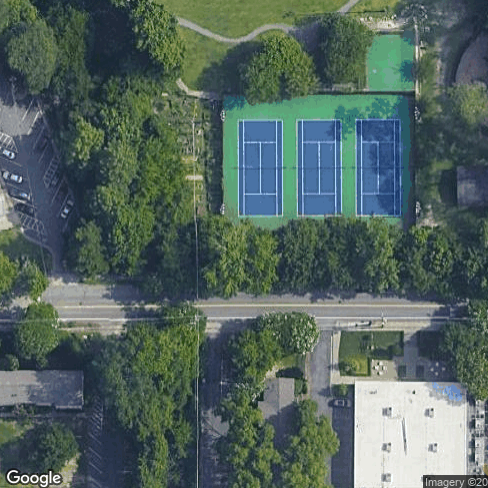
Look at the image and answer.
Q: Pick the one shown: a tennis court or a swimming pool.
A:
tennis court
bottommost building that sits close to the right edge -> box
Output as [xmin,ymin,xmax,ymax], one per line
[354,381,467,488]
